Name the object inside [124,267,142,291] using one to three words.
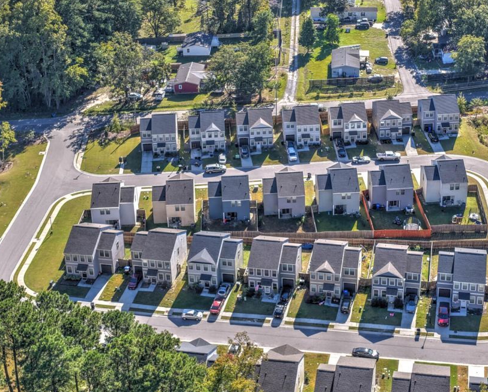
vehicle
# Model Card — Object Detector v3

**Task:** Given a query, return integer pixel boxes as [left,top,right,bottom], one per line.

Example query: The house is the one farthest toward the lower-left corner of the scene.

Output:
[59,223,124,279]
